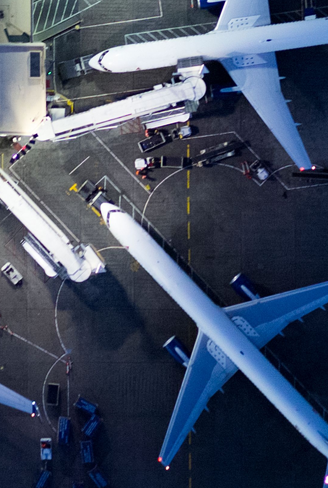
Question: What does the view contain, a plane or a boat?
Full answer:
There is a plane in the scene.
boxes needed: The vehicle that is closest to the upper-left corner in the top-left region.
[57,52,98,84]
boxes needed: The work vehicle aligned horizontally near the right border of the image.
[293,167,328,183]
